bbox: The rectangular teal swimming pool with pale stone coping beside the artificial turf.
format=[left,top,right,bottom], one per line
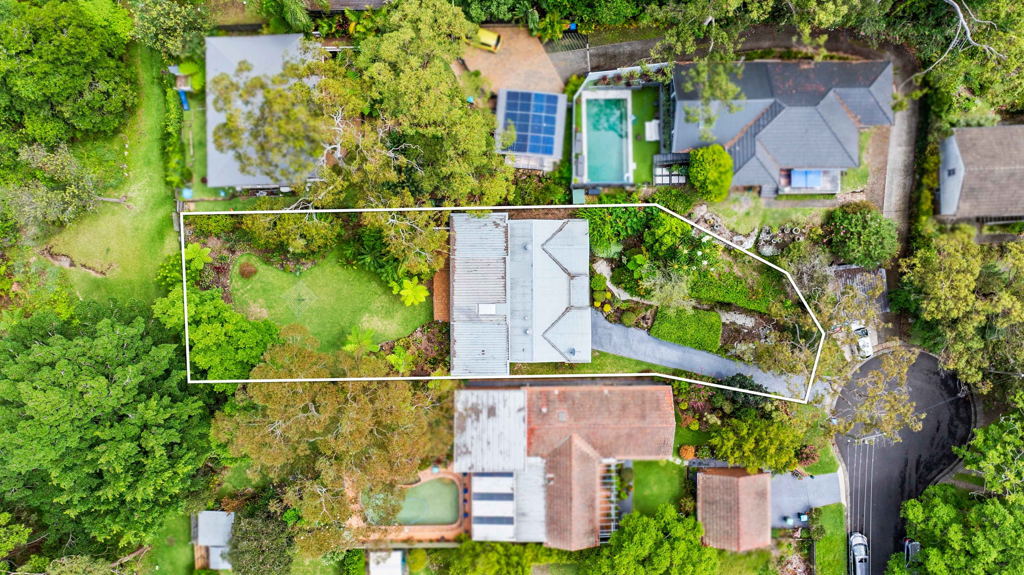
[584,96,635,184]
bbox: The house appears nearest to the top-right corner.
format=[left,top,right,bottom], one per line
[936,126,1024,221]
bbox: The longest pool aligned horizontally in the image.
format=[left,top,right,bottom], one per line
[358,476,461,528]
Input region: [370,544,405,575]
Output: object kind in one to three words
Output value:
shed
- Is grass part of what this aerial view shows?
Yes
